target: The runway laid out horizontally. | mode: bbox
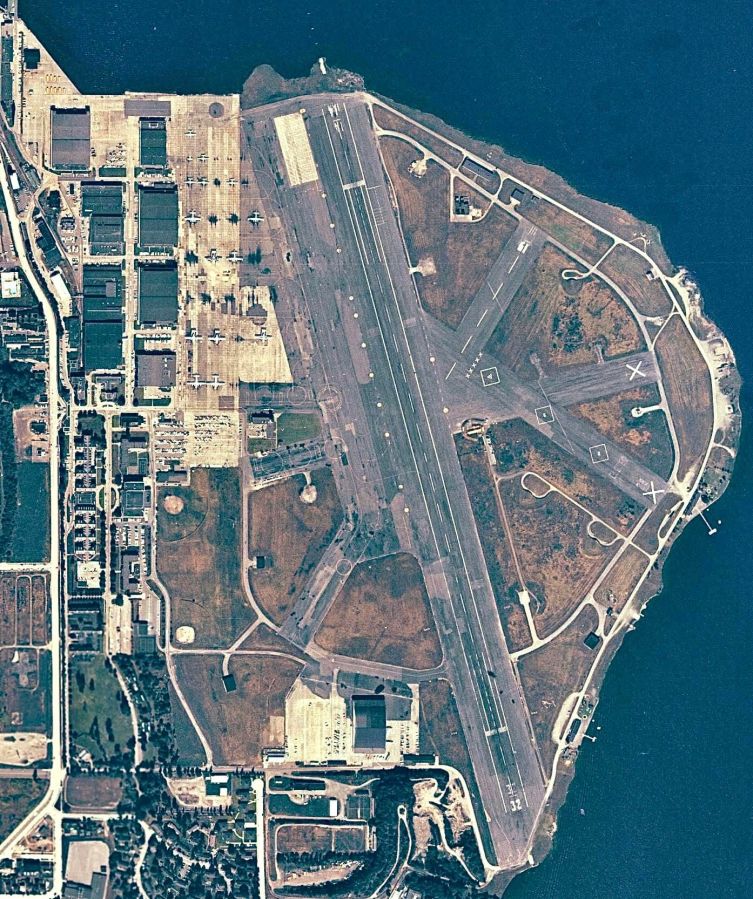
[520,350,656,408]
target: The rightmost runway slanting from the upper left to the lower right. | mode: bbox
[420,299,665,509]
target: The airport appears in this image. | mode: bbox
[125,96,665,867]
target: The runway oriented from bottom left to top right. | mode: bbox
[440,221,548,379]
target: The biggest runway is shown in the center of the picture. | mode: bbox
[240,99,546,867]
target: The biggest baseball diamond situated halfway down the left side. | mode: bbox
[156,486,210,543]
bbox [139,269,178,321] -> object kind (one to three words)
hangar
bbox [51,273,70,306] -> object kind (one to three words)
building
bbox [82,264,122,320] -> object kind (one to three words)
building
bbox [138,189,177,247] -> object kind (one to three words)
hangar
